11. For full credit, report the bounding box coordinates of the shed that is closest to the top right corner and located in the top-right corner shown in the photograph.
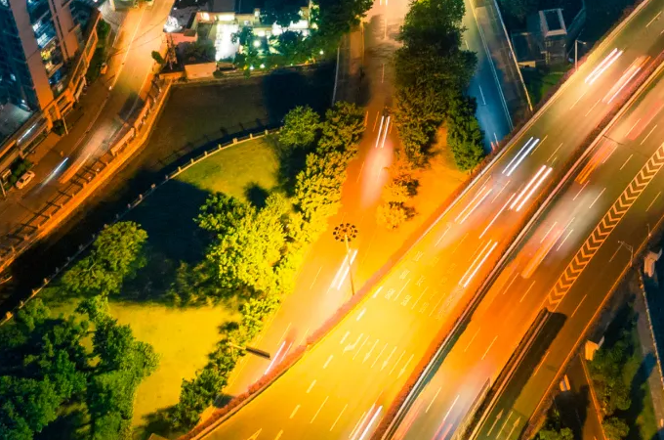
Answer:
[540,2,576,57]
